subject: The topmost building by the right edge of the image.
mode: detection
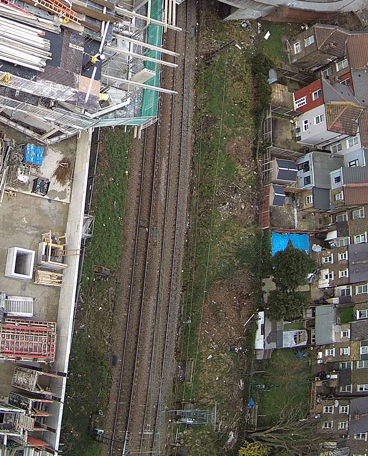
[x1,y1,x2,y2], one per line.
[289,25,368,82]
